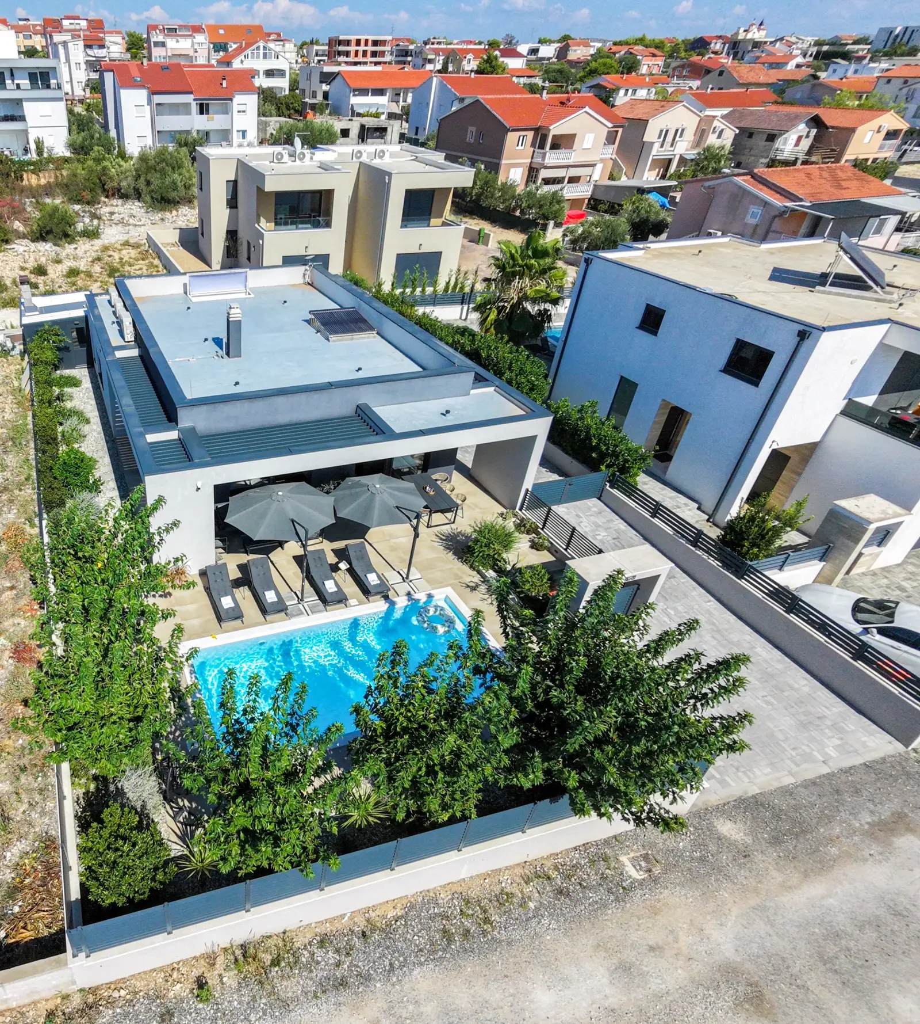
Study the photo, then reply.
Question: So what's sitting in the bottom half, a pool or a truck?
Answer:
pool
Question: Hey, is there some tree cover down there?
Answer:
Yes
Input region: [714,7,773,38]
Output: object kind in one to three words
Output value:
house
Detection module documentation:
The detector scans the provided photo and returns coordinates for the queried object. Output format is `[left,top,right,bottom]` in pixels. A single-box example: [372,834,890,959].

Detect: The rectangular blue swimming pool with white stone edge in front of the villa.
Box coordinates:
[179,587,539,772]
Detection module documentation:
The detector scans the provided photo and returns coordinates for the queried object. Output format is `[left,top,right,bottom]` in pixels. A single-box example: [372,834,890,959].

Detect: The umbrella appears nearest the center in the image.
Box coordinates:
[325,472,434,593]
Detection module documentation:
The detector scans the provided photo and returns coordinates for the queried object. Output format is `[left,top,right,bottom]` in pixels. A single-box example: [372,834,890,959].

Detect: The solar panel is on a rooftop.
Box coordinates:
[812,240,903,302]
